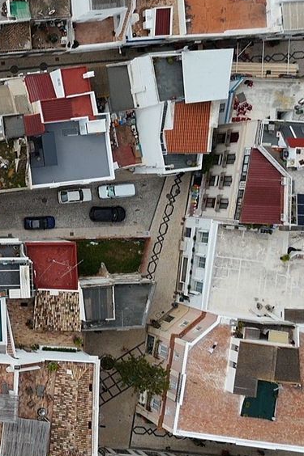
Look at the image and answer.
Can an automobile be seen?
Yes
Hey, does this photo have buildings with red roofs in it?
Yes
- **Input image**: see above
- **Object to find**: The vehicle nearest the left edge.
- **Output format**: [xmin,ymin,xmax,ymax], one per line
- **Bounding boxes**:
[23,216,55,230]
